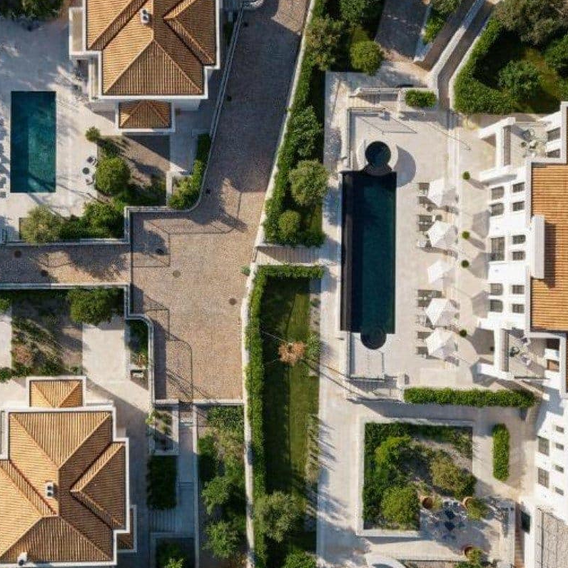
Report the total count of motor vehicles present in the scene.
0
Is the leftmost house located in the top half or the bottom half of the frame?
bottom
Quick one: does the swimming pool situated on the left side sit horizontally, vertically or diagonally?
vertically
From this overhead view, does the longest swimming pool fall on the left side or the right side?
right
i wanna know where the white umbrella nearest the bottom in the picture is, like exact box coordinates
[425,326,455,359]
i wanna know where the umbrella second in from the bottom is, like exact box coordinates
[424,295,455,328]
